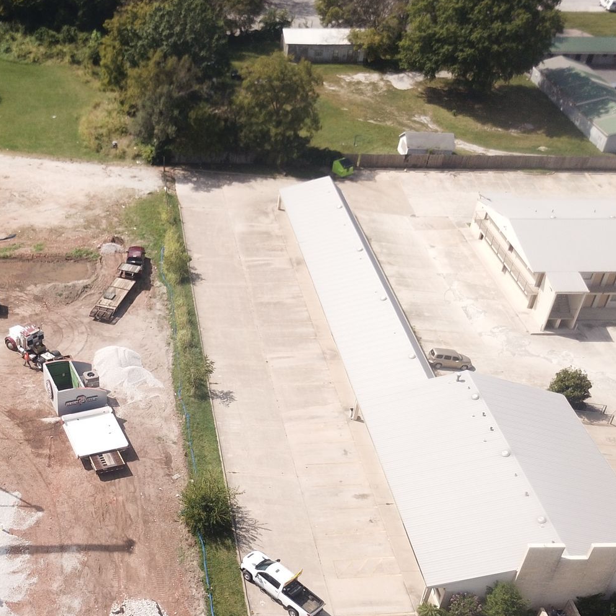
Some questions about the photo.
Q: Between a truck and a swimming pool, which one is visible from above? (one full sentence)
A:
I can see a truck in this picture.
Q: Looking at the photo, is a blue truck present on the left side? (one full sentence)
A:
No, no blue truck is visible on the left side.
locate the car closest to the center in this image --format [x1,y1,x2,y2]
[425,344,475,367]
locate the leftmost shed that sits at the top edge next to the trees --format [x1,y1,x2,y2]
[279,27,371,62]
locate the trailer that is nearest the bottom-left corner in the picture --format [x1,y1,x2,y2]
[88,452,127,478]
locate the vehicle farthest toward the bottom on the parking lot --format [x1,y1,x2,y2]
[241,553,328,616]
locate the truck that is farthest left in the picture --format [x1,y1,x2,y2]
[0,318,59,377]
